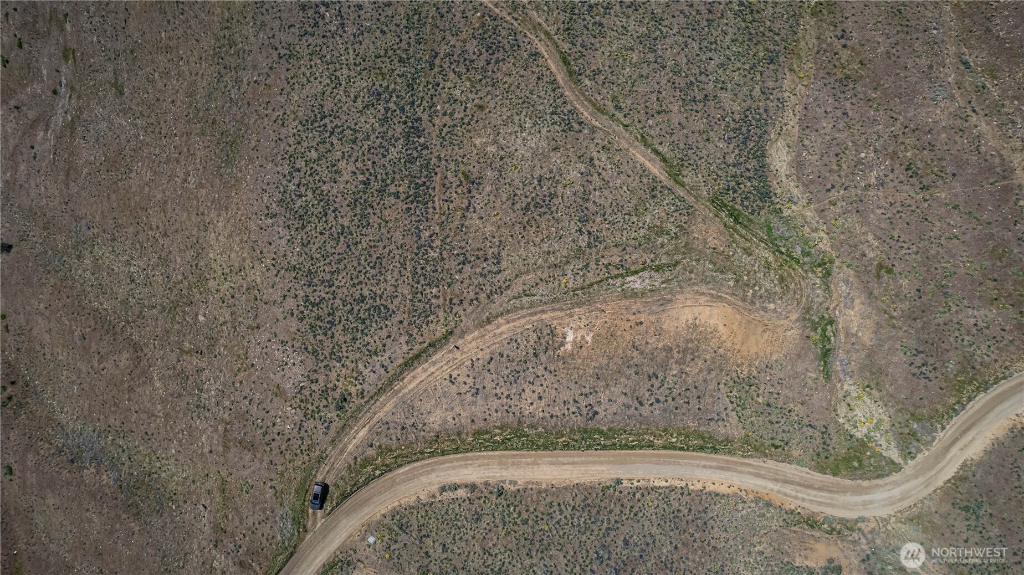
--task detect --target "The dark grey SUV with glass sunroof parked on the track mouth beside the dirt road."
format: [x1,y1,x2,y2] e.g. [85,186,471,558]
[307,482,323,511]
